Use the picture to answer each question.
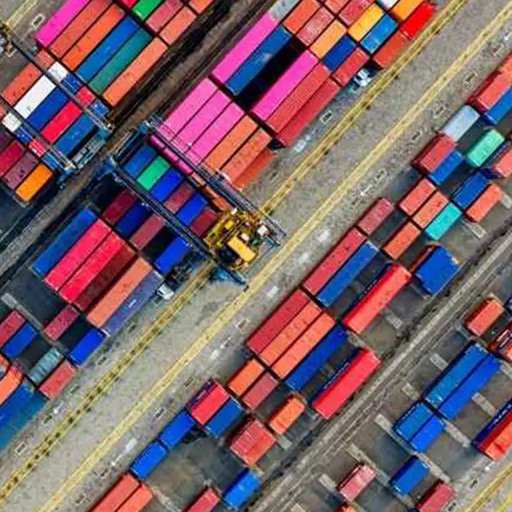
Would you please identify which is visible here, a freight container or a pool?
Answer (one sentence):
Of the two, only a freight container appears.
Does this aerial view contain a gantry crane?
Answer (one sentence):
Yes, a gantry crane can be made out from above.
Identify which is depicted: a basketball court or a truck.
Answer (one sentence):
There is a truck in the scene.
